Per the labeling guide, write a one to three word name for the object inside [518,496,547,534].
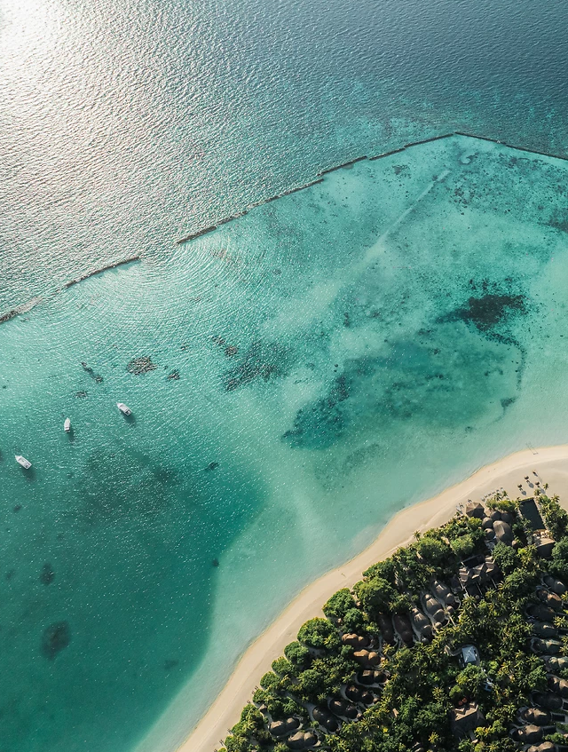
swimming pool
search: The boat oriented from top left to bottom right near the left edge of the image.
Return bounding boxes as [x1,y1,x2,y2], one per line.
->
[15,456,32,471]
